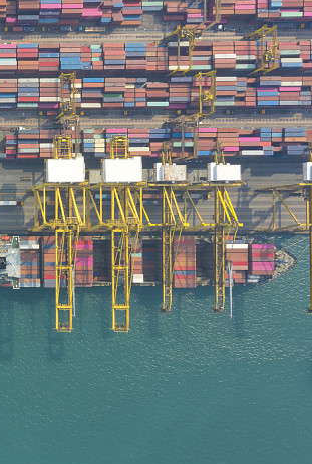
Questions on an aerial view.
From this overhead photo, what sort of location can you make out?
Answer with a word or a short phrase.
port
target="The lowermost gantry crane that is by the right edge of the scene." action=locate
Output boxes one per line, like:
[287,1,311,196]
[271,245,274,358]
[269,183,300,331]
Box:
[241,137,312,314]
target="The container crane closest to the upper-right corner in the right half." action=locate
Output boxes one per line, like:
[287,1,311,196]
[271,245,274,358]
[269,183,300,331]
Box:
[239,25,278,80]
